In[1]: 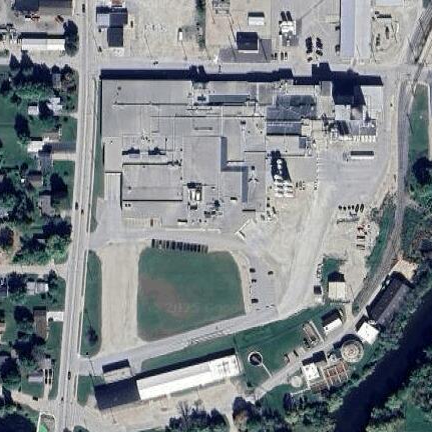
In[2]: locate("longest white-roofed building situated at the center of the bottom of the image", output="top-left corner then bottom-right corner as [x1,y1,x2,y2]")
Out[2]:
[136,354,243,402]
